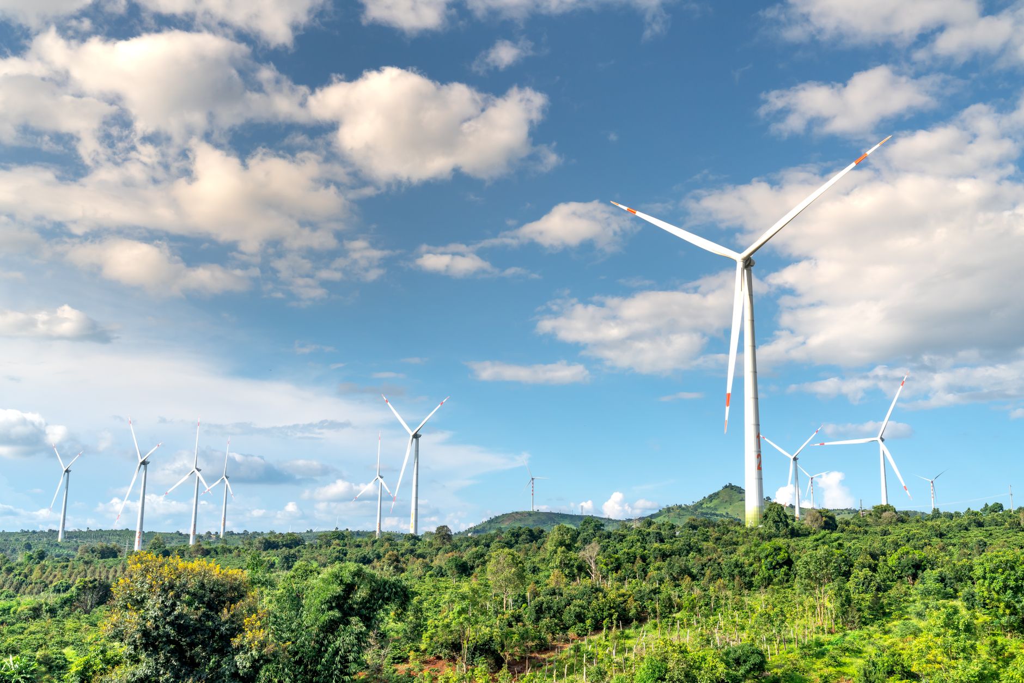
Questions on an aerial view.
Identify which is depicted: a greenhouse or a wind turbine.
wind turbine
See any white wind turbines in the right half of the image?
Yes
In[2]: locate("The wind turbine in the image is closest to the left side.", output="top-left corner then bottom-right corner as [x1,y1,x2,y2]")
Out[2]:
[49,447,83,545]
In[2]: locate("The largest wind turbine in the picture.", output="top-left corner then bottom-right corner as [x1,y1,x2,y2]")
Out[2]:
[611,136,890,523]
